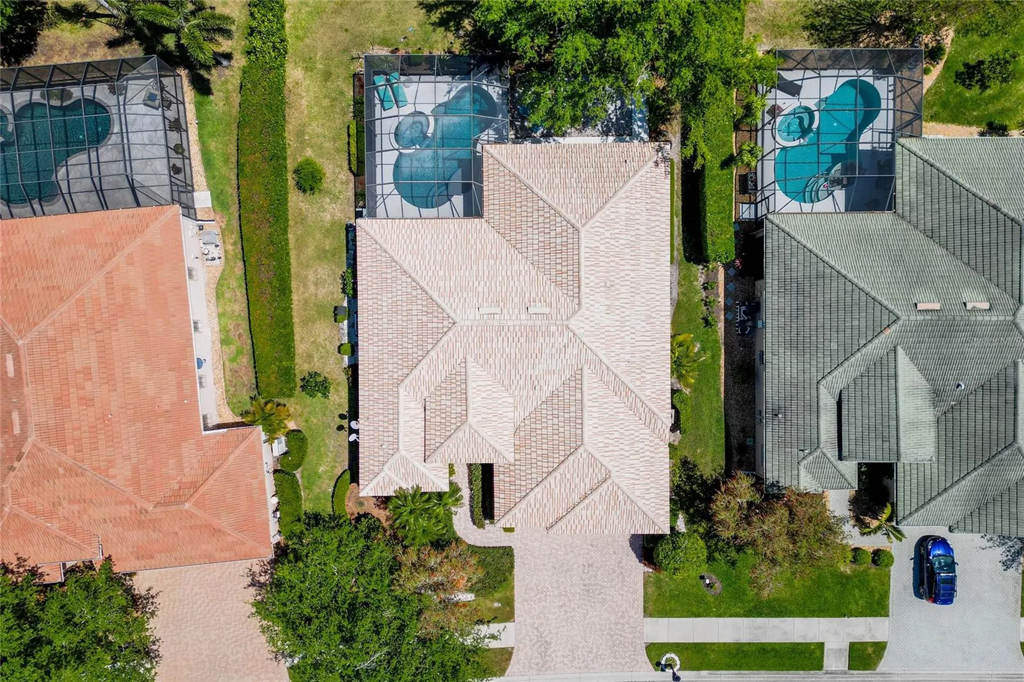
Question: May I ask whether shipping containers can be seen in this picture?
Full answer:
No, the photo shows no shipping container.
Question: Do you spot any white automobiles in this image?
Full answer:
No, this view has no white automobile in it.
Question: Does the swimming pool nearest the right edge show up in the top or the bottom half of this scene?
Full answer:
The top half of the photo is where the swimming pool nearest the right edge is.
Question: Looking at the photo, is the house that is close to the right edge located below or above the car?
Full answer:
In the image, the house that is close to the right edge appears above the car.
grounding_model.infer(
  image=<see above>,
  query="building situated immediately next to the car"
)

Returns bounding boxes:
[754,136,1024,539]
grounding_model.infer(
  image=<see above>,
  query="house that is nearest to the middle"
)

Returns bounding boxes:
[355,140,673,536]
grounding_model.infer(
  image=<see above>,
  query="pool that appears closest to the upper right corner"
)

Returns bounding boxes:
[770,74,886,207]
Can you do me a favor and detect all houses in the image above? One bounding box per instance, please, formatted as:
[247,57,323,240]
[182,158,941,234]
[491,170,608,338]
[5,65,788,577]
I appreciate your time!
[754,136,1024,539]
[355,140,673,536]
[0,202,277,588]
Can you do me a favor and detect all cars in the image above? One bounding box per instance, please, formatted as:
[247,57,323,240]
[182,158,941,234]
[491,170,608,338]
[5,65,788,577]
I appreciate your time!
[916,533,959,606]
